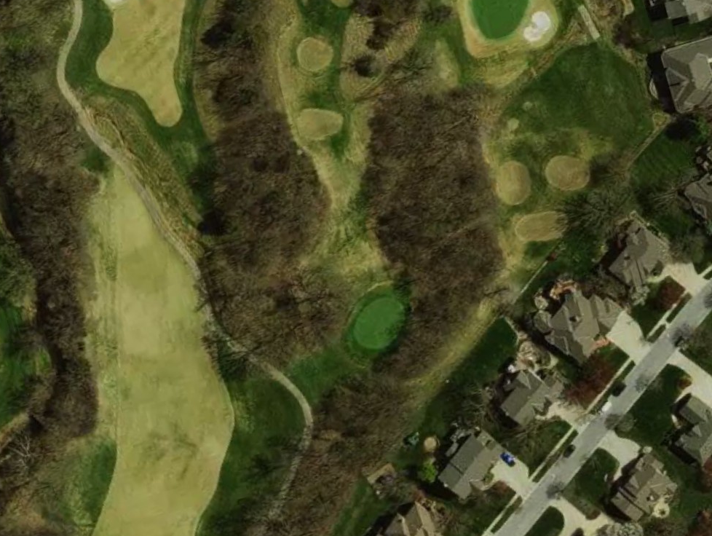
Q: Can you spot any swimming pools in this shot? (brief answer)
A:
No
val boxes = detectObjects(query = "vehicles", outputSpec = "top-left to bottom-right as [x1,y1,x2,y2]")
[502,453,514,464]
[563,444,576,457]
[613,381,626,395]
[601,401,614,415]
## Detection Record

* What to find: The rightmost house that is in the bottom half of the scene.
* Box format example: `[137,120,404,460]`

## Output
[677,391,712,469]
